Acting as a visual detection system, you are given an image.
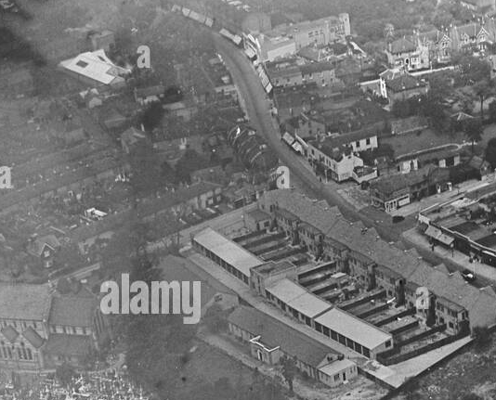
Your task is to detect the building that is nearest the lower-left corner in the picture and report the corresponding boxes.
[0,291,118,369]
